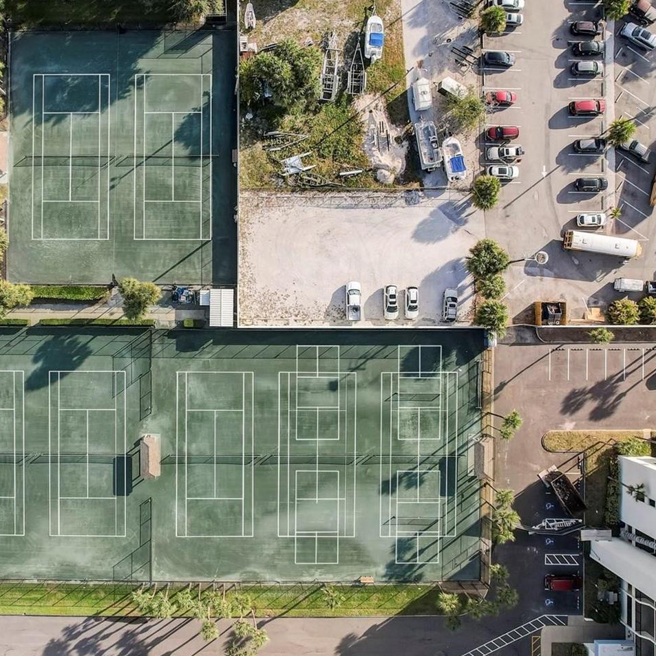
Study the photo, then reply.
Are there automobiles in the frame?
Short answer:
Yes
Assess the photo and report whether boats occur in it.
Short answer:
Yes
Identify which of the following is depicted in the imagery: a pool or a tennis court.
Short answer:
tennis court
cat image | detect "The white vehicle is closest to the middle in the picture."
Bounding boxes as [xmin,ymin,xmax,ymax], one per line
[345,281,361,320]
